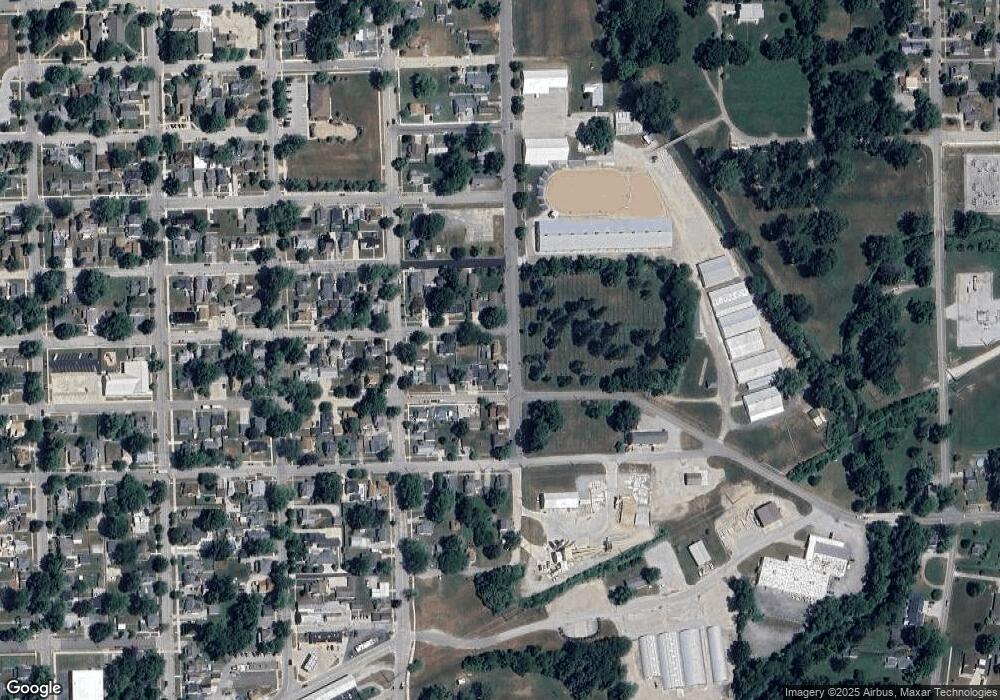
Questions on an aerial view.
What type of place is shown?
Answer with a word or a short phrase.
residential area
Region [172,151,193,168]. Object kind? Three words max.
house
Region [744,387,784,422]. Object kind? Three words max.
barn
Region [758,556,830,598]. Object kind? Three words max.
building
